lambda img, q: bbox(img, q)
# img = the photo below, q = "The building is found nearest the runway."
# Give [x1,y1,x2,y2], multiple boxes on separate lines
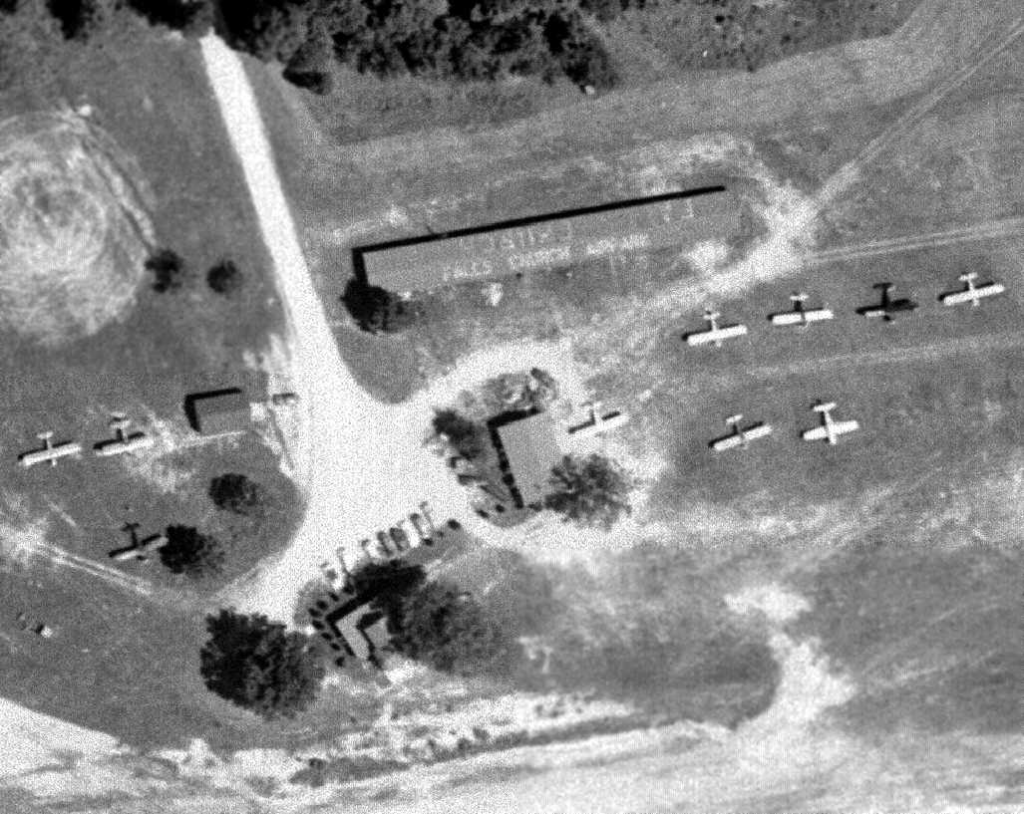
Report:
[334,599,408,662]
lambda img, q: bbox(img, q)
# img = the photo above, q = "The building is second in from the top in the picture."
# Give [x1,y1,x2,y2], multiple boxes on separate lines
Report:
[192,389,255,438]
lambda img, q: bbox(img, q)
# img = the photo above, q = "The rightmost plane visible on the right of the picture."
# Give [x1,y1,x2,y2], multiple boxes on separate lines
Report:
[945,272,1006,308]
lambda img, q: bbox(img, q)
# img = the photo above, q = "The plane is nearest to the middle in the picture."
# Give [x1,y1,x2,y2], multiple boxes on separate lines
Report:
[569,403,630,441]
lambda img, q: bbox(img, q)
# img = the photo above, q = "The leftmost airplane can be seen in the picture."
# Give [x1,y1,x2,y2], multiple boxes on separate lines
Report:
[20,431,82,468]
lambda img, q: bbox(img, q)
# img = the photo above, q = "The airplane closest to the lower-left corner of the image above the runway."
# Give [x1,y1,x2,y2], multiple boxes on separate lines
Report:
[110,526,170,563]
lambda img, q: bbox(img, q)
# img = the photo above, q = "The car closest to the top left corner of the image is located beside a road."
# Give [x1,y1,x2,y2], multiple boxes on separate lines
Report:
[274,395,299,408]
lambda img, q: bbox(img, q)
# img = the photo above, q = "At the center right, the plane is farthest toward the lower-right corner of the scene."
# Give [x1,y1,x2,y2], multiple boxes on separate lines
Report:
[803,402,860,446]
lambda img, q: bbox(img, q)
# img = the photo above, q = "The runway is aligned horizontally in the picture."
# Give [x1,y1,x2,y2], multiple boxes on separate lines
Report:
[0,635,1024,814]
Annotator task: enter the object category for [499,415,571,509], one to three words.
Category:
building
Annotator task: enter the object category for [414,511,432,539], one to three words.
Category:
car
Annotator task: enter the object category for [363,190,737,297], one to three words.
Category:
hangar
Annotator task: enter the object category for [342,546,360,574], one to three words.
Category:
car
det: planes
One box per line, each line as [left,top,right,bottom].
[713,415,774,452]
[93,424,155,461]
[862,287,923,324]
[687,312,749,349]
[803,402,860,446]
[569,403,630,441]
[110,526,170,563]
[772,293,834,330]
[20,431,82,468]
[945,272,1006,308]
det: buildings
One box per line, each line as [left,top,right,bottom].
[363,190,737,297]
[192,389,255,438]
[499,415,571,509]
[334,599,408,662]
